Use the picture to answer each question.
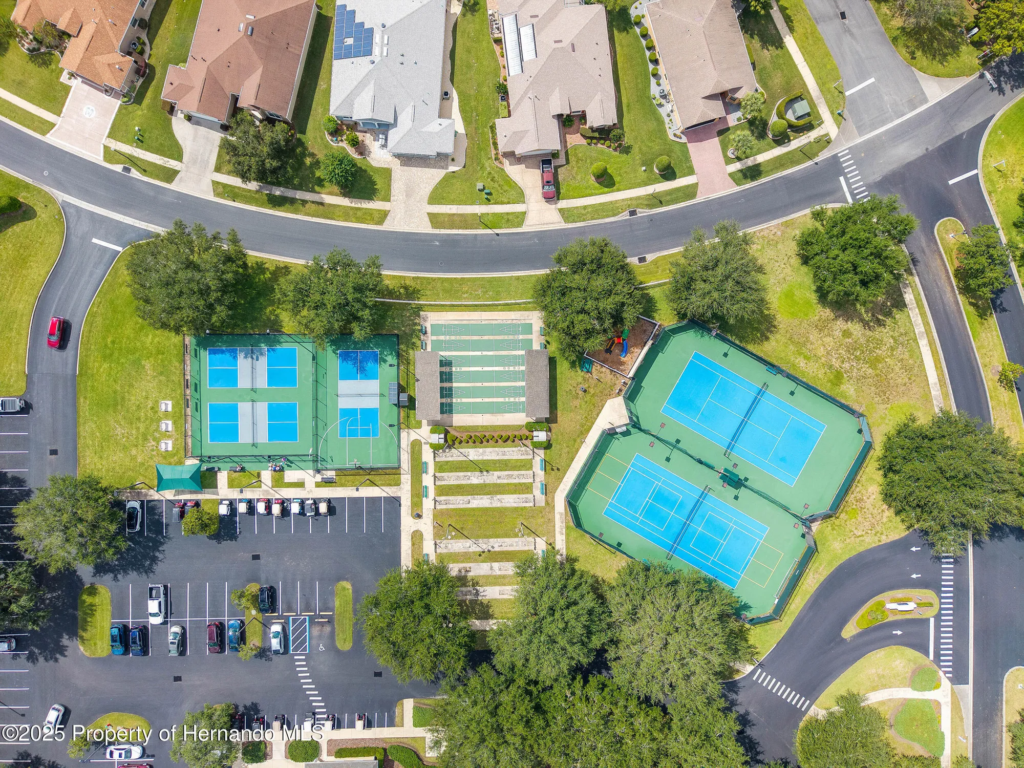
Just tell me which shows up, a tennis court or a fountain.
tennis court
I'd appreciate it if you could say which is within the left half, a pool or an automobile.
automobile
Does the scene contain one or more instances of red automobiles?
Yes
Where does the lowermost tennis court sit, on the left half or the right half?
right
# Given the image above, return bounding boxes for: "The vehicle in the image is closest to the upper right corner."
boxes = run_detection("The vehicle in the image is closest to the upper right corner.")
[540,158,557,200]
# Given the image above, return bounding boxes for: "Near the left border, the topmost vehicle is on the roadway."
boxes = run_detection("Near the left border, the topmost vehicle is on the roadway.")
[46,316,67,349]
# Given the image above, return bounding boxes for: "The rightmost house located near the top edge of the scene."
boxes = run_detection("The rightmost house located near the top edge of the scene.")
[643,0,756,134]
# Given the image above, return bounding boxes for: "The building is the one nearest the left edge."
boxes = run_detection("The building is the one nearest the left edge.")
[10,0,150,93]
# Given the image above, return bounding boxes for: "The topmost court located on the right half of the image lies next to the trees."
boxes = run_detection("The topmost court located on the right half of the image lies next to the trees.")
[624,321,863,518]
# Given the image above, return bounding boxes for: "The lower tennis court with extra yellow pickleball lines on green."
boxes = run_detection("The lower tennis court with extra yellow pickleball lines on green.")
[566,423,808,619]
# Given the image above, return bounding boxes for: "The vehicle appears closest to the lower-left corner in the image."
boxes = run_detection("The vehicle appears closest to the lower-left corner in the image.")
[43,700,66,734]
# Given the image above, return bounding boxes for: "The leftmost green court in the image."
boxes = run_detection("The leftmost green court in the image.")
[191,334,317,470]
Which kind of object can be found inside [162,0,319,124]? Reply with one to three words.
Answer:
house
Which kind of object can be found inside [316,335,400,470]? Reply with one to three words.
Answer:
basketball court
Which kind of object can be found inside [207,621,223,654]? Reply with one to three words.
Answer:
car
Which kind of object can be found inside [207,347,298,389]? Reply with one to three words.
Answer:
sports court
